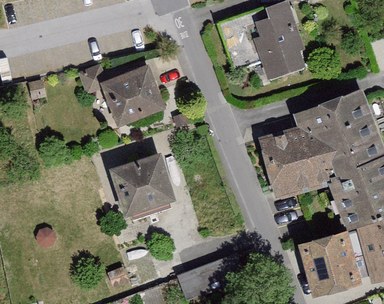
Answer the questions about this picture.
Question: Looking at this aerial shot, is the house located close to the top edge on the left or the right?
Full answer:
It is on the right.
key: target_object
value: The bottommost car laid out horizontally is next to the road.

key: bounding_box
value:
[274,210,298,224]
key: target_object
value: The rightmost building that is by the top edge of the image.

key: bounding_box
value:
[255,0,306,82]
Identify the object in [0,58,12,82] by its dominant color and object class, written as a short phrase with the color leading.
white vehicle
